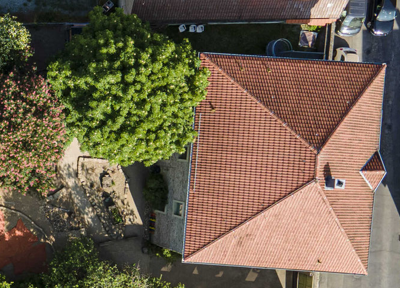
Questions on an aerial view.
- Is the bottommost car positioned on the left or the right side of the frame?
right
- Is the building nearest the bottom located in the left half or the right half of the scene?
right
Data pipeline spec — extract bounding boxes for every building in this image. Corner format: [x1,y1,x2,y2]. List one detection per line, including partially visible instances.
[118,0,350,27]
[149,51,389,277]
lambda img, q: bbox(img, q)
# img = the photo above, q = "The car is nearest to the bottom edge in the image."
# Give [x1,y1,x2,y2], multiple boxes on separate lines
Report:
[333,38,359,61]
